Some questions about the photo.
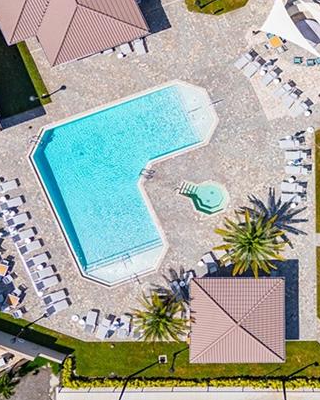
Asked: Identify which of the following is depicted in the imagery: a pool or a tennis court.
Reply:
pool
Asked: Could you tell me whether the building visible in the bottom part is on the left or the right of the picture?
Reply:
right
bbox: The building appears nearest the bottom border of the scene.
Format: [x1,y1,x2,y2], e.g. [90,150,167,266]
[189,277,285,365]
